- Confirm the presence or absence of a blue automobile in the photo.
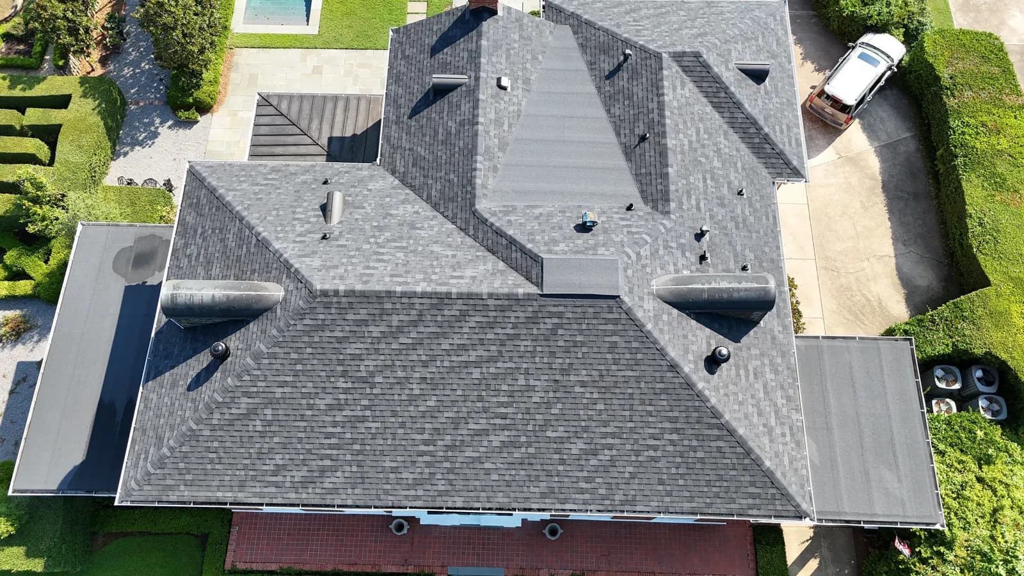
No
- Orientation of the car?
diagonally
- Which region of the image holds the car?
top right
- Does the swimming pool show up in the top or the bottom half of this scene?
top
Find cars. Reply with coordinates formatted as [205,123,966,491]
[802,36,911,140]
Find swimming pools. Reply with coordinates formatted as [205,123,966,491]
[235,0,327,36]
